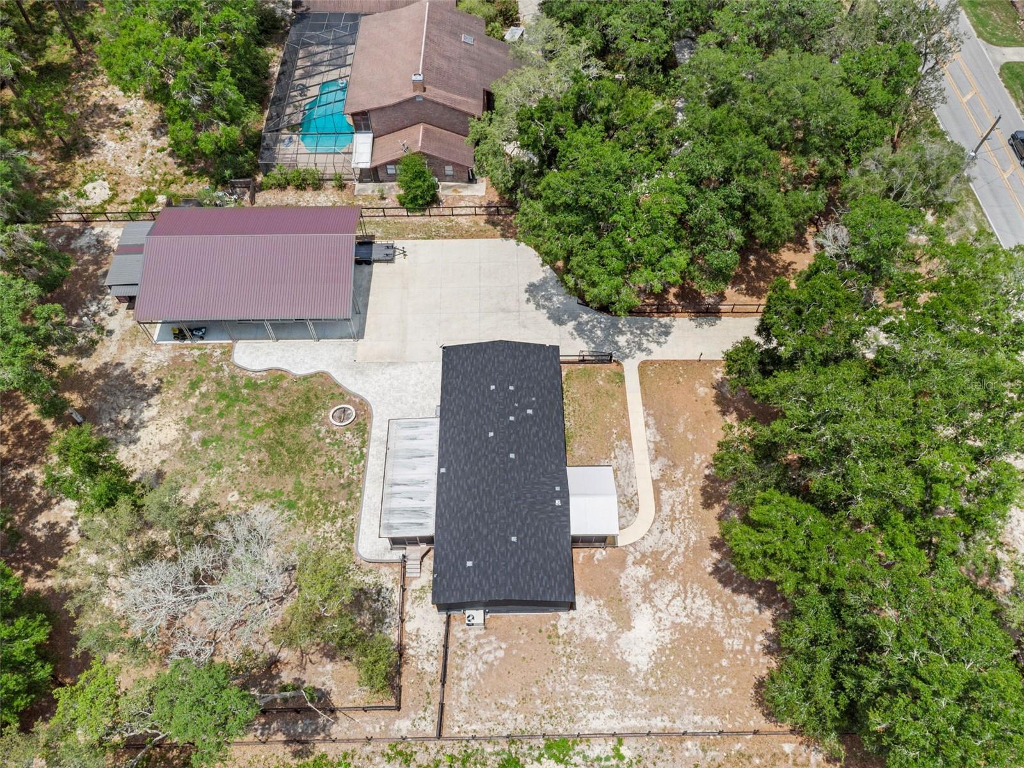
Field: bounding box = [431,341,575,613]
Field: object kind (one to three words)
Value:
house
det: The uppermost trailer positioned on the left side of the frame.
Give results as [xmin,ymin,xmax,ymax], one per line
[356,240,408,266]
